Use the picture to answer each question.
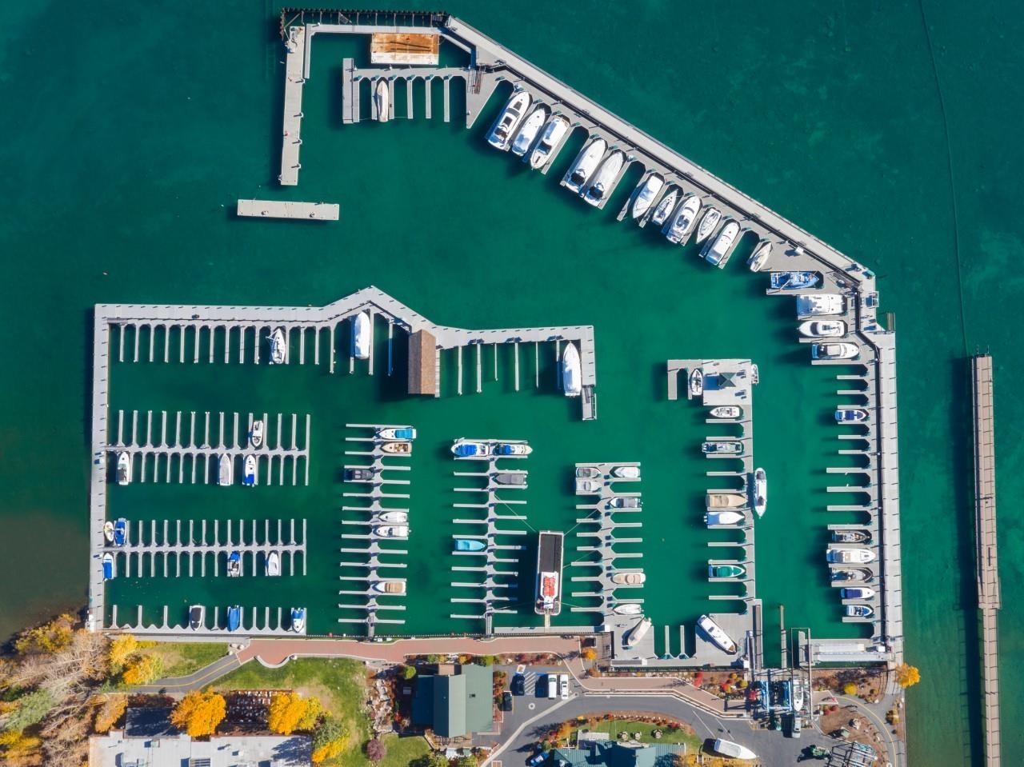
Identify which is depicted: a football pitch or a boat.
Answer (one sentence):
Of the two, only a boat appears.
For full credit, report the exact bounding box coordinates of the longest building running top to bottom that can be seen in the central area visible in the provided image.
[409,328,436,394]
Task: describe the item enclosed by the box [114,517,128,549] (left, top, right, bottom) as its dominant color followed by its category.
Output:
blue boat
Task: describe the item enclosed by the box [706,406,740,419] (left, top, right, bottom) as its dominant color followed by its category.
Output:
white boat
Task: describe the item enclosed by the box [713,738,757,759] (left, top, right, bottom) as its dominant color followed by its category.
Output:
white boat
